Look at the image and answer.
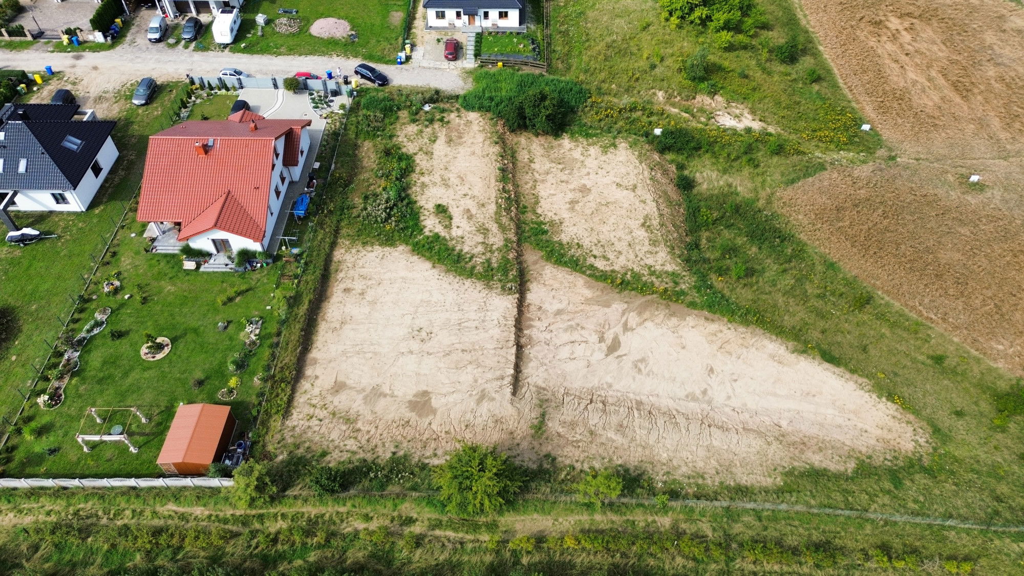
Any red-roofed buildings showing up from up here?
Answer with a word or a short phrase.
Yes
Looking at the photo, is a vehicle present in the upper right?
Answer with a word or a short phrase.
No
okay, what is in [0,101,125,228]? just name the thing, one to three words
house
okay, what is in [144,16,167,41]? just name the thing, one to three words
vehicle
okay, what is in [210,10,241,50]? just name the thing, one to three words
camper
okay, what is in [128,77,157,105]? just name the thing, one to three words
car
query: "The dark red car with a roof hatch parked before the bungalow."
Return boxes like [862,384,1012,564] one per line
[443,39,459,59]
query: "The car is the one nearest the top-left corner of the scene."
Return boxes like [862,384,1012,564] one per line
[49,88,76,103]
